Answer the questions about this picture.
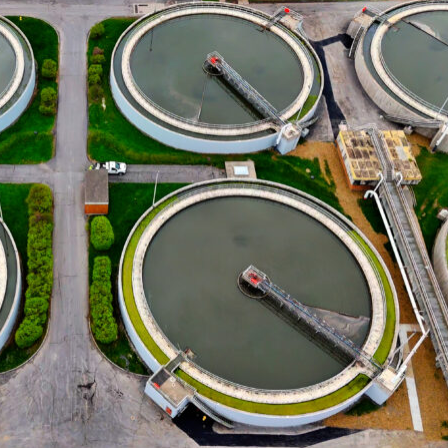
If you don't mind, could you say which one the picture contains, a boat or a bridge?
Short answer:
bridge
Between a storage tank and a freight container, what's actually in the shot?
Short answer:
storage tank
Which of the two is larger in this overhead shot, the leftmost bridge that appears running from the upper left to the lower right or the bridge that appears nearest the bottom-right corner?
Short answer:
the bridge that appears nearest the bottom-right corner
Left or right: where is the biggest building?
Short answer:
right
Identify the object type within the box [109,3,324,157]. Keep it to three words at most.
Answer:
storage tank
